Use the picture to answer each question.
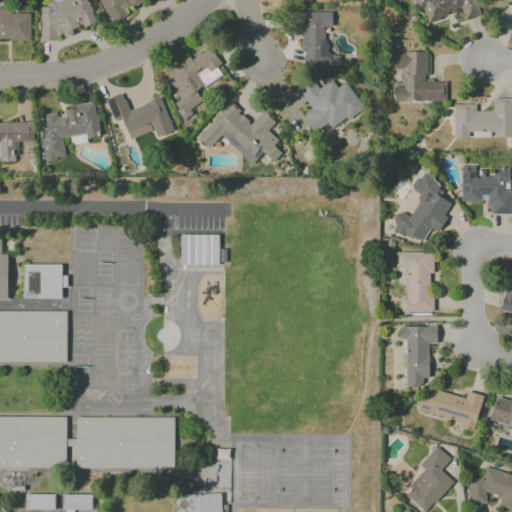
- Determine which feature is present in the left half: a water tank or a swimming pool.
swimming pool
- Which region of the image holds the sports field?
center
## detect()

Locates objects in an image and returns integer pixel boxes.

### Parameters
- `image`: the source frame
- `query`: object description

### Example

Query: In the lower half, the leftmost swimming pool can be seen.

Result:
[390,439,404,459]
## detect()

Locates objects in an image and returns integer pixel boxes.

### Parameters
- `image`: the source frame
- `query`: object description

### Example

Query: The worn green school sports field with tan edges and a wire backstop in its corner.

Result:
[221,177,382,434]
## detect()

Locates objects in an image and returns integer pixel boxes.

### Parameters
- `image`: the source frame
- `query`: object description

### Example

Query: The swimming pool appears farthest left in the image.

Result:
[80,146,109,170]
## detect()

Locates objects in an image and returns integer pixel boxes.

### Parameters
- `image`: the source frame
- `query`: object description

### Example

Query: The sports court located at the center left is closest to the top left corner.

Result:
[74,226,98,251]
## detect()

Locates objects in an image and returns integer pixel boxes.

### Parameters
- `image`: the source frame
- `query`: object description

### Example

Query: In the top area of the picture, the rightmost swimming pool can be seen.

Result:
[445,158,460,184]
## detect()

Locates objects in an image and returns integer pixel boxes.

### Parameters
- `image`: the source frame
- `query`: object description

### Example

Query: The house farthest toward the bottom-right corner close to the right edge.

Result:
[466,466,512,506]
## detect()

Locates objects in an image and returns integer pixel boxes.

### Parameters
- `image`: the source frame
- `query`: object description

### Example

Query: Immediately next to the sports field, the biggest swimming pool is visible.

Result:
[210,155,238,167]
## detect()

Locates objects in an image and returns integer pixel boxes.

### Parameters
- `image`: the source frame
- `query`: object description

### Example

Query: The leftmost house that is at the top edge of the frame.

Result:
[0,10,31,40]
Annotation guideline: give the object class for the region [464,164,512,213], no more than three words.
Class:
house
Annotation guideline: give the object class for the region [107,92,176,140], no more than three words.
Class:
house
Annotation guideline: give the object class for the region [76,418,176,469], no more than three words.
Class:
building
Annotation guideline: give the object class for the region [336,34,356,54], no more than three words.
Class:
swimming pool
